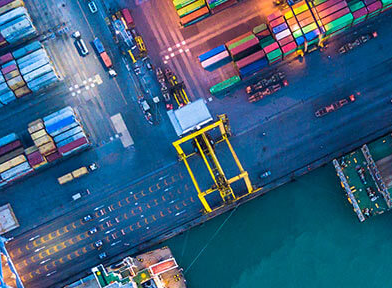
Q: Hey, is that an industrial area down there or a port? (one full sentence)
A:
The area seen from above is a port.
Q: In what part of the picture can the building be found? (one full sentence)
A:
You can find the building in the bottom left area of the picture.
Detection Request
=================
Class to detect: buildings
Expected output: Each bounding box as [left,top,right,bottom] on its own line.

[0,204,25,236]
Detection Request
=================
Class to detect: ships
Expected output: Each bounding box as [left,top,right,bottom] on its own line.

[62,247,191,288]
[336,130,392,227]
